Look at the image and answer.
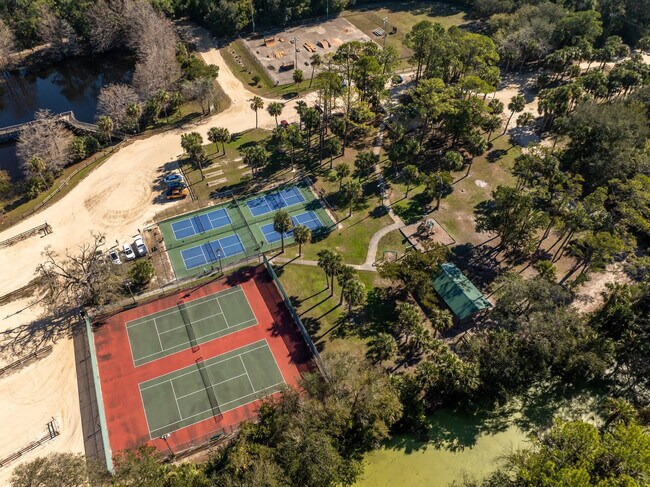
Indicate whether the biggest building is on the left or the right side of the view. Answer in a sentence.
You can find the biggest building on the right side of the picture.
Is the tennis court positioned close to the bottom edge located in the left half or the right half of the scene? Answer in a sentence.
The tennis court positioned close to the bottom edge sits on the left side.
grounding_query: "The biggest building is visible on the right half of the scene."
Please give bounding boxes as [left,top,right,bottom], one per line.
[426,262,493,327]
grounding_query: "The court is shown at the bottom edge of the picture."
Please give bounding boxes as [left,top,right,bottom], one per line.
[101,320,322,472]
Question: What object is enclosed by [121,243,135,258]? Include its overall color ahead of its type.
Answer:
white vehicle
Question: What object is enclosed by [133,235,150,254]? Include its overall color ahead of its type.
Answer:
white vehicle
